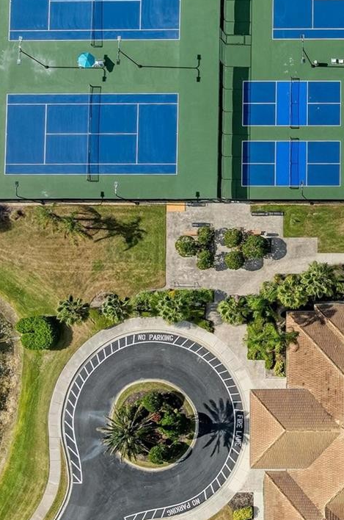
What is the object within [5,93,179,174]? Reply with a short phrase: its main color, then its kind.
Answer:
blue tennis court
